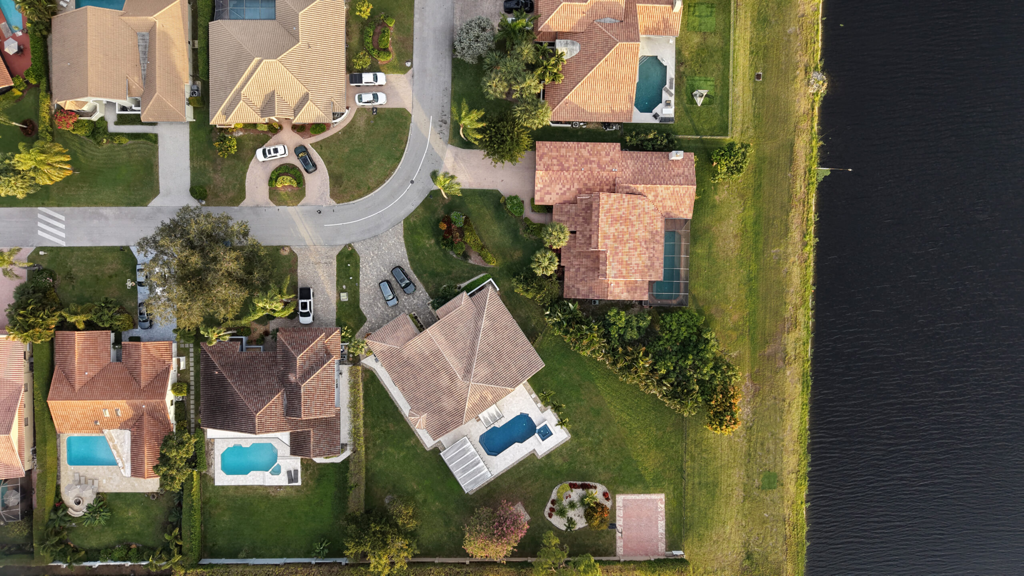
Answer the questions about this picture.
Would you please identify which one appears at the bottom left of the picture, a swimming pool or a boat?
swimming pool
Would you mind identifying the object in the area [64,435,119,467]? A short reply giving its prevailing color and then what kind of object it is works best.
blue swimming pool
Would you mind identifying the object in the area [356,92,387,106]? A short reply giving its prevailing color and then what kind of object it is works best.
white car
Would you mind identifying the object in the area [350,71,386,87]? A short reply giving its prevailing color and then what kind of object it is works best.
white vehicle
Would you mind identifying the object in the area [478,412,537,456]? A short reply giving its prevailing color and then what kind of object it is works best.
blue swimming pool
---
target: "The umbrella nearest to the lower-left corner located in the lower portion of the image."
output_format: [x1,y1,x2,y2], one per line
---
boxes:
[6,490,22,505]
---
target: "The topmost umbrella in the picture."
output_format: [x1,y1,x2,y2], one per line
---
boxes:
[6,40,24,55]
